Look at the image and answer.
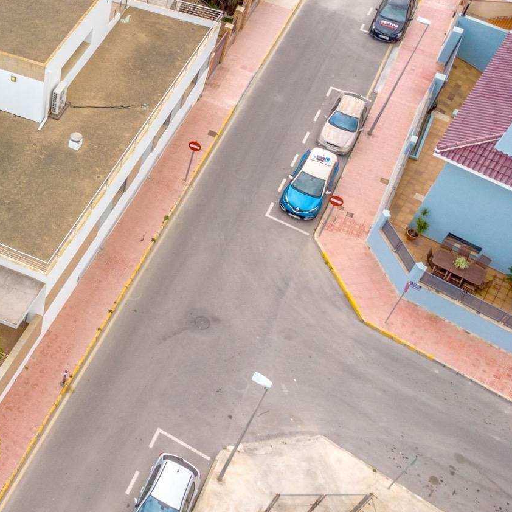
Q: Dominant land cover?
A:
paved ground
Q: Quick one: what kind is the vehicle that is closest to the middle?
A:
car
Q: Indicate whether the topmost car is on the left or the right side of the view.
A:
right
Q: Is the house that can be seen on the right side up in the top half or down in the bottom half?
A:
top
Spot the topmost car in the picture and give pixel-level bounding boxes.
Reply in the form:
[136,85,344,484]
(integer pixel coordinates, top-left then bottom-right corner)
[369,0,413,44]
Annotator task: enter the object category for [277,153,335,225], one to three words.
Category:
car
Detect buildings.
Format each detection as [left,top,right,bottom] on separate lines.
[408,43,512,277]
[0,0,224,401]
